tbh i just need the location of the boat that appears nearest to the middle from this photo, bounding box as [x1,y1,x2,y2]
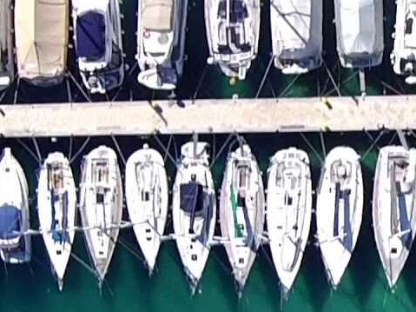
[180,142,212,159]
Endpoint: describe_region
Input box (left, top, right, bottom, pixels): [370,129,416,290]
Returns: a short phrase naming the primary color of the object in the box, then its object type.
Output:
white boat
